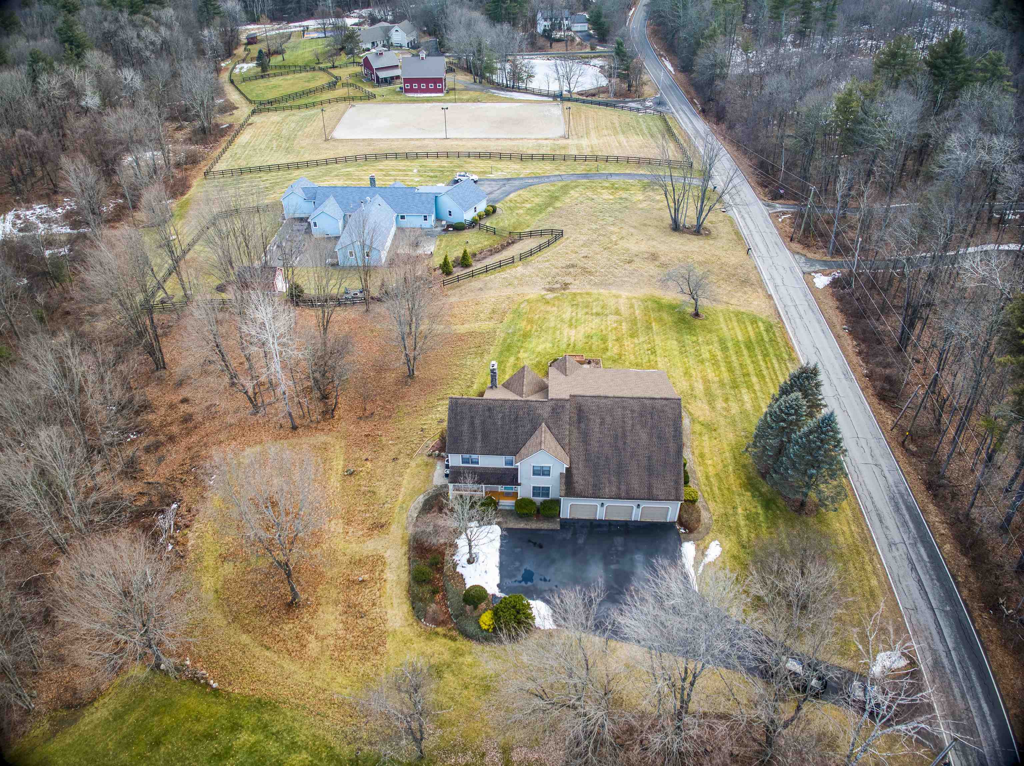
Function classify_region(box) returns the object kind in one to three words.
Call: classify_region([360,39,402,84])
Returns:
barn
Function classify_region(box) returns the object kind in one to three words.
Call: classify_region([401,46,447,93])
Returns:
barn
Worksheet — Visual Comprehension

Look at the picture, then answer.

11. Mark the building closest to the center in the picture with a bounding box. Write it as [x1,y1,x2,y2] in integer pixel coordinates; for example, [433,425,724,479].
[445,354,685,522]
